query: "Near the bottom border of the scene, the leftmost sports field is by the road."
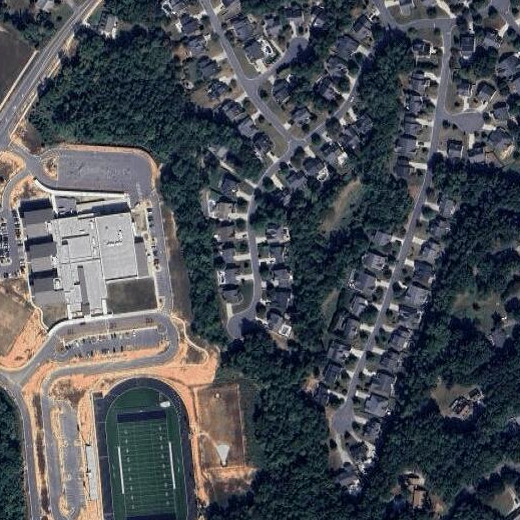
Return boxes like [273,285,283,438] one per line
[105,386,188,520]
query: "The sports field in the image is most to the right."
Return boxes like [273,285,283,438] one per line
[197,386,245,467]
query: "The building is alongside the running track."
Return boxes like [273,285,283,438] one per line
[20,195,150,324]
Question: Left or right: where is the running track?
left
